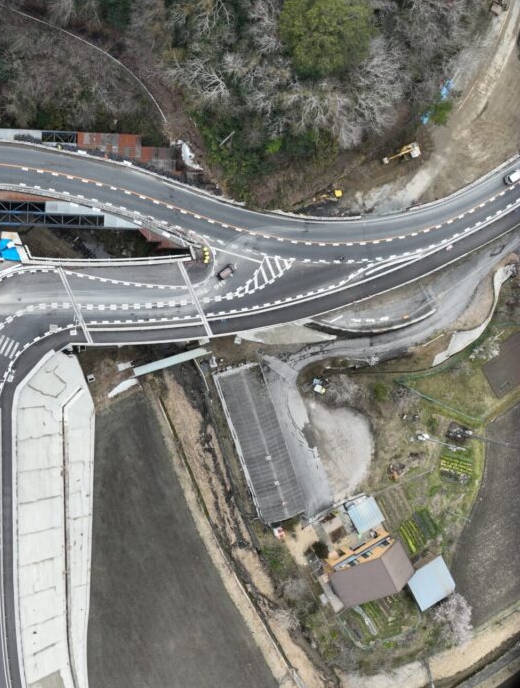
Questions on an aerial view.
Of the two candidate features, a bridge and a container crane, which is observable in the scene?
bridge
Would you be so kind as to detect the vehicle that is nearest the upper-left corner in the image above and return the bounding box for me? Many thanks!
[217,263,237,280]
